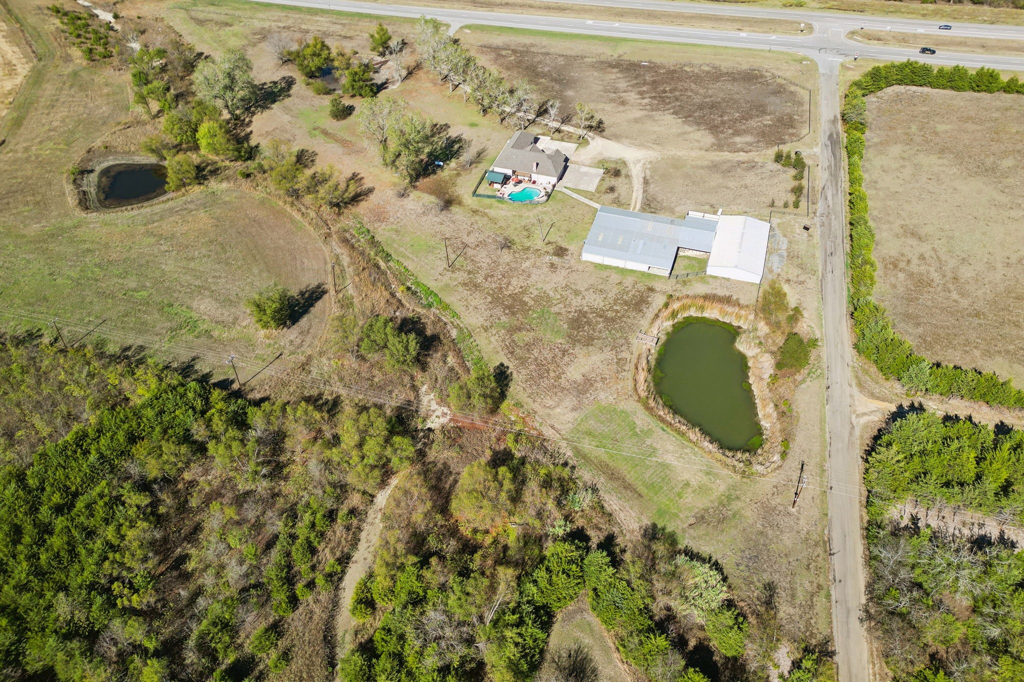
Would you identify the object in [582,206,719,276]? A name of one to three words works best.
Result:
barn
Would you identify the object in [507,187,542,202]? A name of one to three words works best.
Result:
swimming pool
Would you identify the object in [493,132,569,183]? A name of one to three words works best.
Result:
house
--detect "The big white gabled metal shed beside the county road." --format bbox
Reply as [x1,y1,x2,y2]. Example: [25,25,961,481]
[706,216,774,285]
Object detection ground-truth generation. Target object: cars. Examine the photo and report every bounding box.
[938,24,952,29]
[919,45,936,53]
